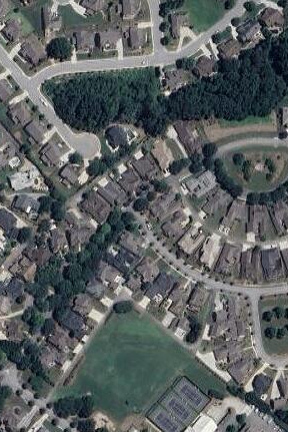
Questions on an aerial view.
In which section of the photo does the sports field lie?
bottom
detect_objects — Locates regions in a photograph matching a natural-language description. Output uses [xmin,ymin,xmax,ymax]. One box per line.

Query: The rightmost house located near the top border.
[260,4,285,32]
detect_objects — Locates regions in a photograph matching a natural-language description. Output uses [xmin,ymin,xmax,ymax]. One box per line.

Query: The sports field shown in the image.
[51,308,220,418]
